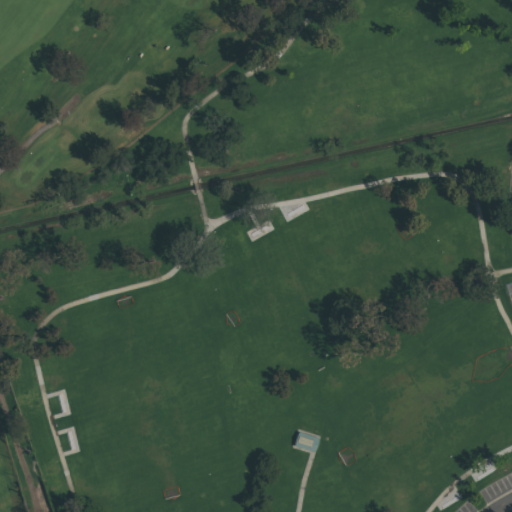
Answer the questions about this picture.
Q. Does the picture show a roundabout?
No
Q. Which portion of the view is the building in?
bottom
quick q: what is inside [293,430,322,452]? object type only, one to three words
building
